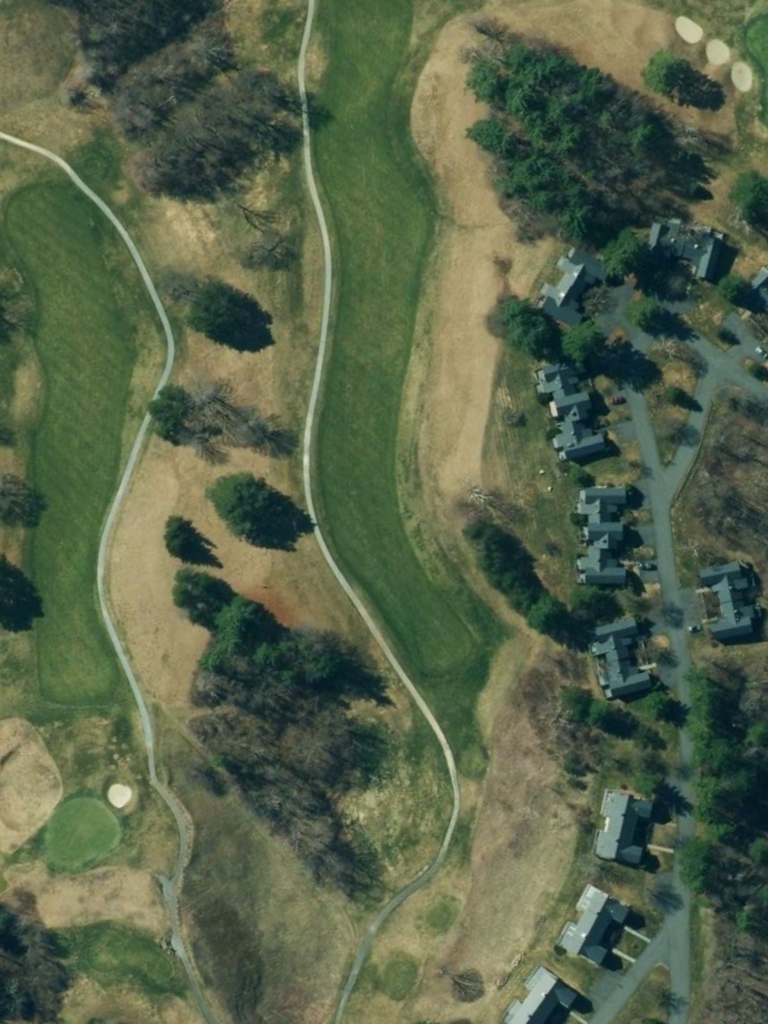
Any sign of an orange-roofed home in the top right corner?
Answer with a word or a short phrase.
No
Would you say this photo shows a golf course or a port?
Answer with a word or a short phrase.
golf course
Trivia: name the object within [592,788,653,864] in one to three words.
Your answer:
house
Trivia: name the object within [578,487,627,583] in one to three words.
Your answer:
house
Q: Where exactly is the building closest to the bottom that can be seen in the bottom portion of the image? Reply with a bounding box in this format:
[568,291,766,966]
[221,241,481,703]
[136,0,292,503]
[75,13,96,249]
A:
[502,966,577,1024]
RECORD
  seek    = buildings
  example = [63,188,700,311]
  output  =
[578,487,627,583]
[750,268,768,296]
[589,618,653,699]
[502,966,577,1024]
[700,561,761,642]
[557,885,630,966]
[538,357,607,460]
[592,788,653,864]
[648,217,724,278]
[538,247,608,326]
